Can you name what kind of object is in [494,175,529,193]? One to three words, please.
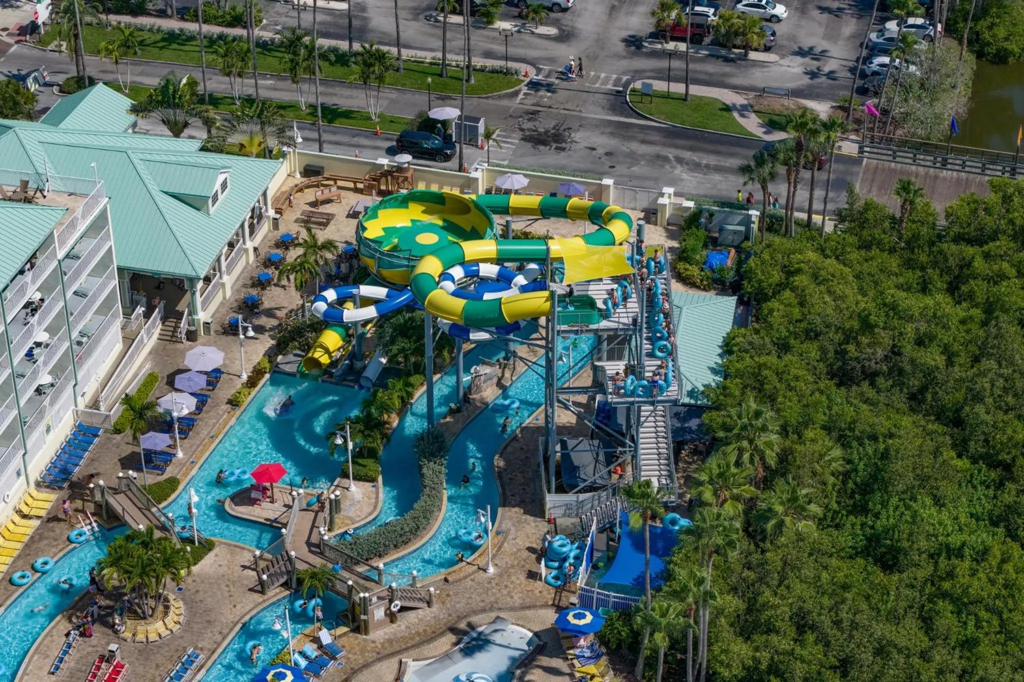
umbrella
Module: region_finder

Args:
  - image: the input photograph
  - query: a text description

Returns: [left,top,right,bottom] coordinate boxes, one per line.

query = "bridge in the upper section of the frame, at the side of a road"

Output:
[844,119,1024,249]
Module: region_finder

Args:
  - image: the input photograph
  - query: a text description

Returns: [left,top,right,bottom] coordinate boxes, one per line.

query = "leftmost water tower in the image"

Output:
[390,153,412,197]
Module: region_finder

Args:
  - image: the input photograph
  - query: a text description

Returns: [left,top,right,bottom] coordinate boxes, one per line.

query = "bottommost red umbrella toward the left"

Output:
[250,463,291,508]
